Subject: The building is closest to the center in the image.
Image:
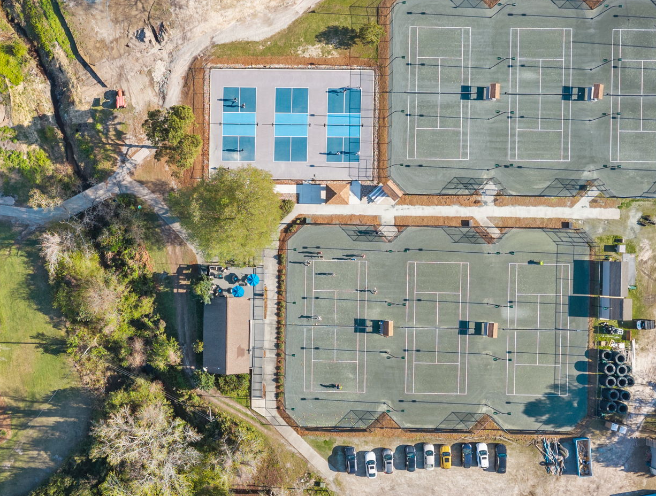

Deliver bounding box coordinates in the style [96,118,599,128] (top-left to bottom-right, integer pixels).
[324,183,350,205]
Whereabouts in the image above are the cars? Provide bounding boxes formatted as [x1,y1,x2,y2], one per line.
[363,449,377,477]
[459,441,473,467]
[380,446,394,472]
[344,445,356,472]
[493,441,508,471]
[474,440,489,468]
[422,441,434,468]
[403,443,416,470]
[439,443,452,468]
